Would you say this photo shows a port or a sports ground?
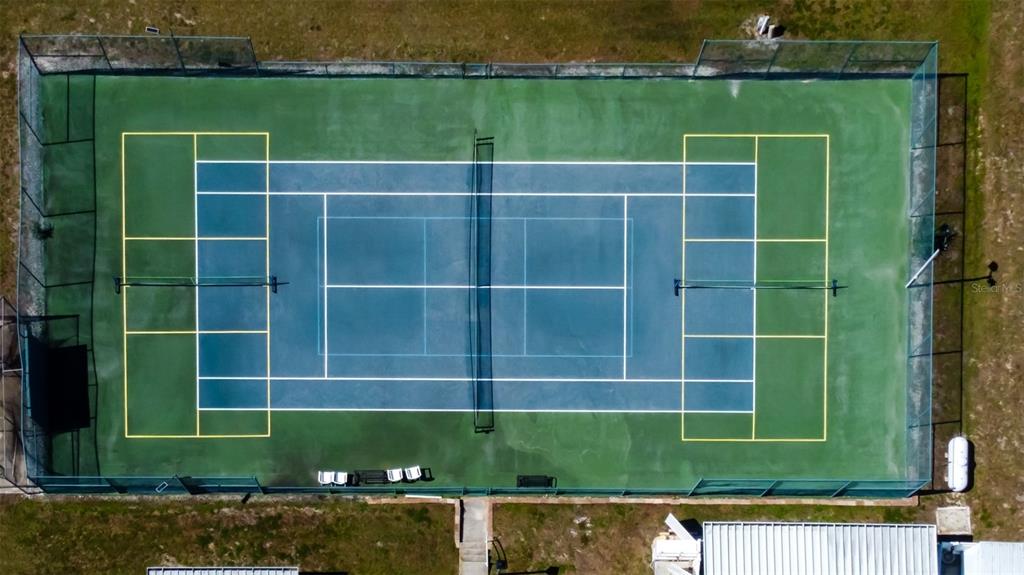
sports ground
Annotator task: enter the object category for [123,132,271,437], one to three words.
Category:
sports court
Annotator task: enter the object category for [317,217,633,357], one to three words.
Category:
sports court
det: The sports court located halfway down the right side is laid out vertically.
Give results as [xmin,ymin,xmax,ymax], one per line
[682,134,830,441]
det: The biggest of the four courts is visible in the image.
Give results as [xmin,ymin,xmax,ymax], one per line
[40,77,913,495]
